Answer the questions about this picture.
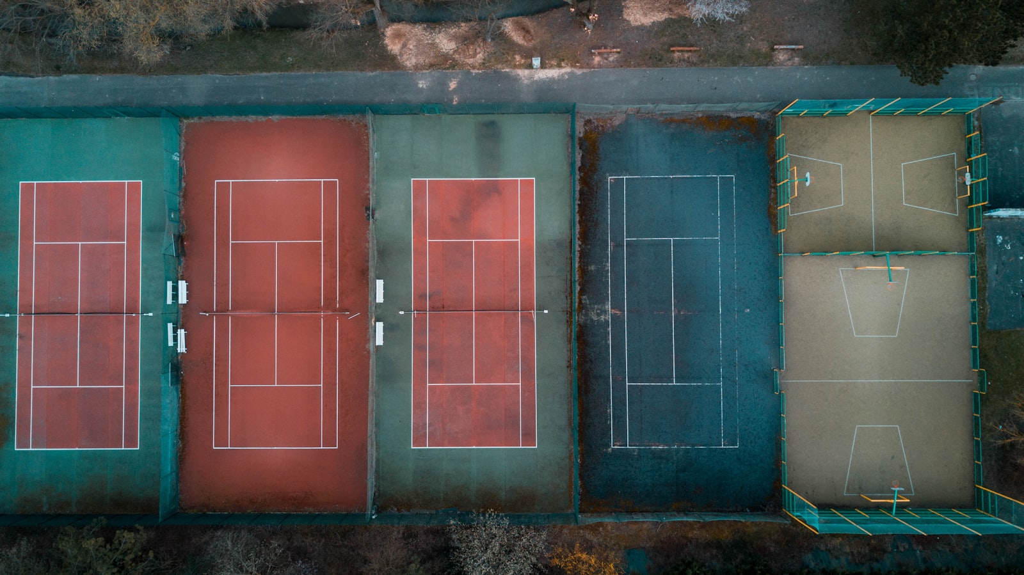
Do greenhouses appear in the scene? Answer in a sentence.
No, there isn't any greenhouse down there.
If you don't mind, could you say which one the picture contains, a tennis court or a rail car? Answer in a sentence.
It is a tennis court that can be seen here.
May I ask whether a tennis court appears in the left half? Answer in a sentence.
Yes, I can see a tennis court in the left half.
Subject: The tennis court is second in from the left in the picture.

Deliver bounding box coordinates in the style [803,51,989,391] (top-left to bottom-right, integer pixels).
[179,115,373,514]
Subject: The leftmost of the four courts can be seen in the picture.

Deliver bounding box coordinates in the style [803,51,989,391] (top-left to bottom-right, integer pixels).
[0,117,179,514]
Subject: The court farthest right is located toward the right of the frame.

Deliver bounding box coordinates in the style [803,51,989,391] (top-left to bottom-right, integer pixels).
[578,111,783,513]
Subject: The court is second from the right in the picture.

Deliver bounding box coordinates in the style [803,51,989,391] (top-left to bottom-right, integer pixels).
[375,115,573,514]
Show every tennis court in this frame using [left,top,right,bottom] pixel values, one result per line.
[375,115,573,514]
[179,115,373,514]
[578,111,783,513]
[0,117,179,514]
